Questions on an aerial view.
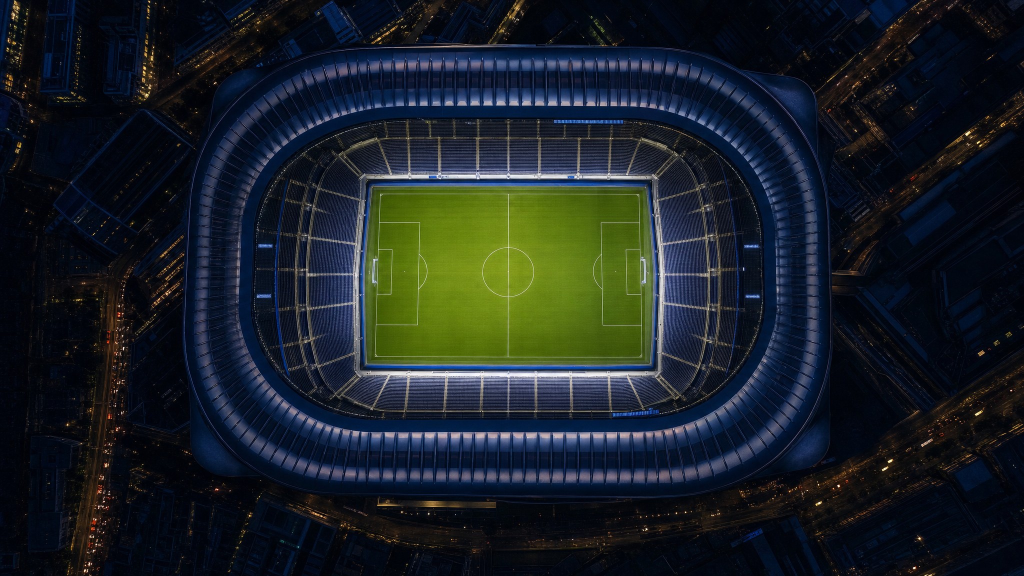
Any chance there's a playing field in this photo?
Yes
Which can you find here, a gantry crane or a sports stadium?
sports stadium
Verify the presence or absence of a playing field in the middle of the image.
Yes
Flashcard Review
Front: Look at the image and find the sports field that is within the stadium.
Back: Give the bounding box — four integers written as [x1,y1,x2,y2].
[370,191,648,360]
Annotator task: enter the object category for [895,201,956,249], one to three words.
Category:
shed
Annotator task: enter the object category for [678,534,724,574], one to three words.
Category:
house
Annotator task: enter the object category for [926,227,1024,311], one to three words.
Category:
building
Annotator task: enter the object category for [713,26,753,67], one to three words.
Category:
building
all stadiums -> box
[182,43,832,503]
